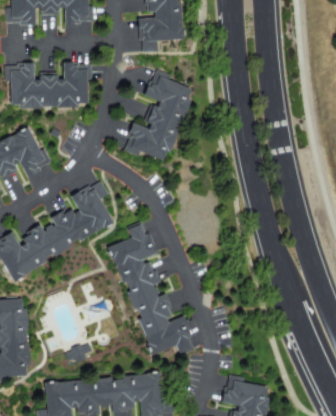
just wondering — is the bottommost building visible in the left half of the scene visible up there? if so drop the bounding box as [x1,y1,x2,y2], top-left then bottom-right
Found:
[41,376,170,416]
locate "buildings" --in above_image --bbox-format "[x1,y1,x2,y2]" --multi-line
[41,376,170,416]
[139,0,184,48]
[4,62,92,106]
[67,339,91,359]
[126,68,193,160]
[0,184,112,279]
[112,231,195,352]
[0,126,53,178]
[0,298,31,376]
[6,0,89,22]
[222,374,268,416]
